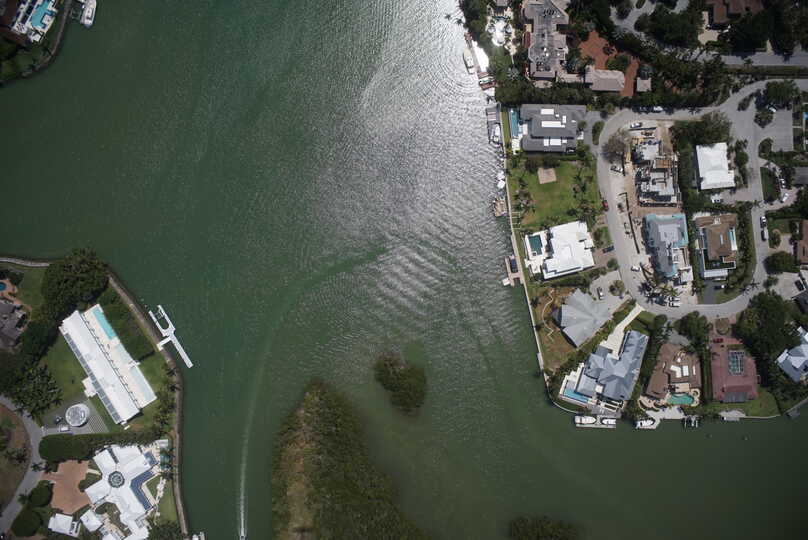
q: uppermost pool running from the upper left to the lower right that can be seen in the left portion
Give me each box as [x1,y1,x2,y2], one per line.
[92,306,117,341]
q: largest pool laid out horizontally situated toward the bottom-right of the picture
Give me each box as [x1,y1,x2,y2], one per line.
[666,392,695,407]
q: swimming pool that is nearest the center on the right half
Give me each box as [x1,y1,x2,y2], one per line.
[528,234,543,256]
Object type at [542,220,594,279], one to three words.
house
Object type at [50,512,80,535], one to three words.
building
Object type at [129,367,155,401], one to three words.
swimming pool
